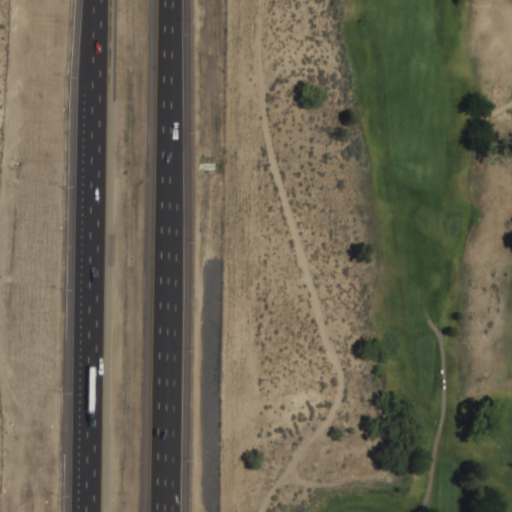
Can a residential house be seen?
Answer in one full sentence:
No, no residential house is visible in the scene.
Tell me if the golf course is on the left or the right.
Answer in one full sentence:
The golf course sits on the right side.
